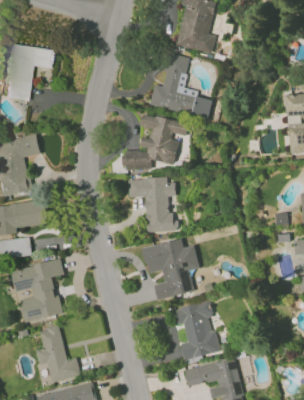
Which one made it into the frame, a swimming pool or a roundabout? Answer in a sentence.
There is a swimming pool in the scene.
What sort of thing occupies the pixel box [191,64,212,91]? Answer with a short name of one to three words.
swimming pool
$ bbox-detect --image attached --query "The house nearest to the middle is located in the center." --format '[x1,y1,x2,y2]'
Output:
[130,178,178,234]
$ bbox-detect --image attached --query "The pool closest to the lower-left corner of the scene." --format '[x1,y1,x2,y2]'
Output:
[20,353,35,380]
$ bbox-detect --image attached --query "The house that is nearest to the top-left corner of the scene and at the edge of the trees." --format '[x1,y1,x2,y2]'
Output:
[6,42,54,100]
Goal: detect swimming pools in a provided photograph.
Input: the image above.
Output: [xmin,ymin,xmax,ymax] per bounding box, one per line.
[284,366,302,396]
[296,310,304,334]
[220,260,245,279]
[0,98,24,125]
[191,64,212,91]
[254,356,270,386]
[282,180,304,206]
[260,127,278,154]
[20,353,35,380]
[278,252,296,280]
